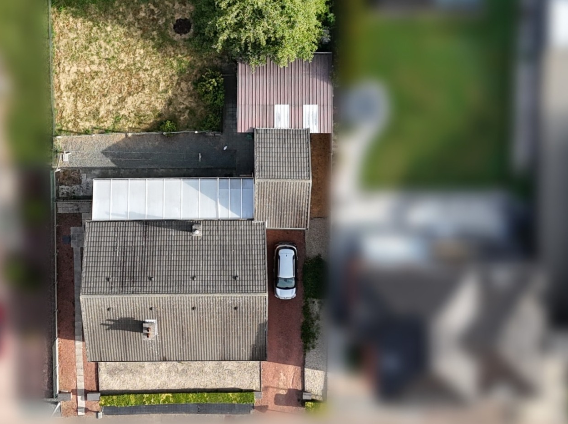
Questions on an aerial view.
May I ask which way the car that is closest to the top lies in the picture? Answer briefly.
vertically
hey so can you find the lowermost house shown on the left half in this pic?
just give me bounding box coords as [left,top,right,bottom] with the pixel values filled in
[78,217,270,363]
